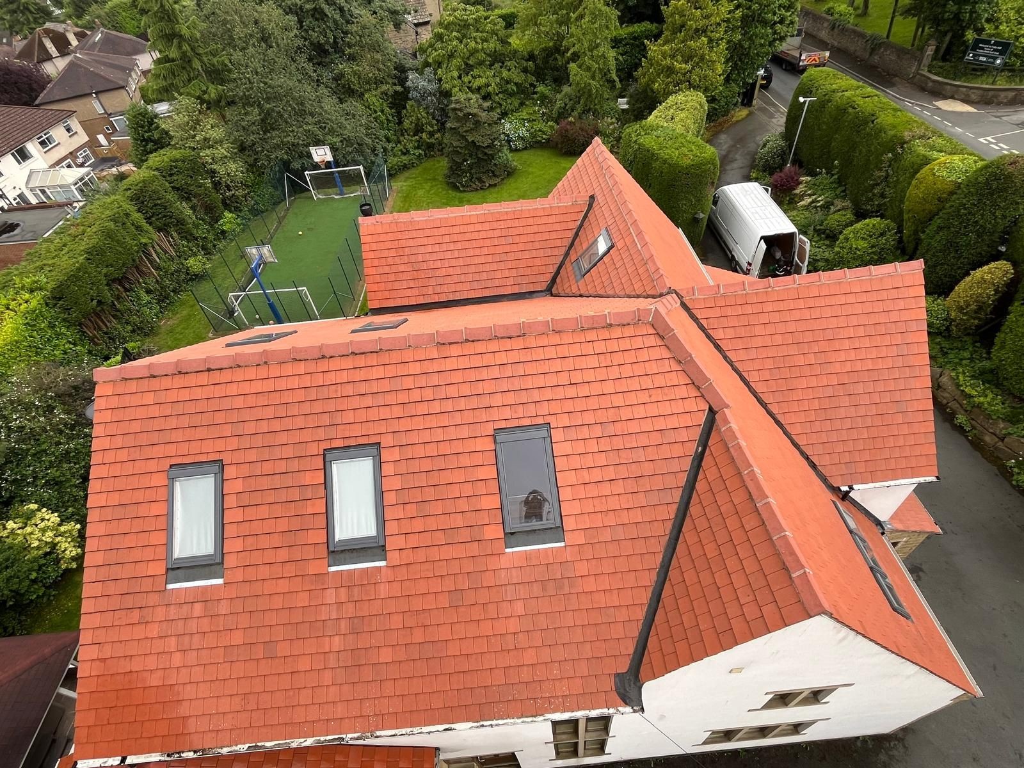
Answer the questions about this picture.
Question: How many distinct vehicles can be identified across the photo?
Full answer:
The photo contains 3 vehicles.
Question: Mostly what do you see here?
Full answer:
The scene is dominated by buildings.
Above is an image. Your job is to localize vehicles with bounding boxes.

[778,23,829,68]
[743,60,779,84]
[713,183,826,278]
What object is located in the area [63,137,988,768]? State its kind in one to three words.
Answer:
house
